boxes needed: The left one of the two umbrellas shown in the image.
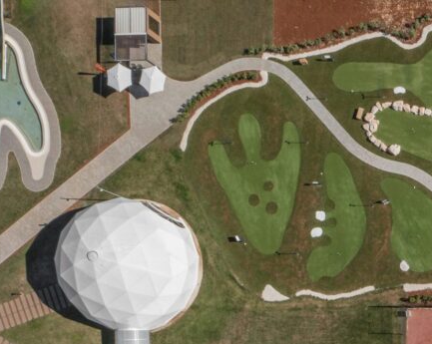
[107,63,135,93]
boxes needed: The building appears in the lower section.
[54,192,203,333]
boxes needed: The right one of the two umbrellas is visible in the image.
[140,64,168,96]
